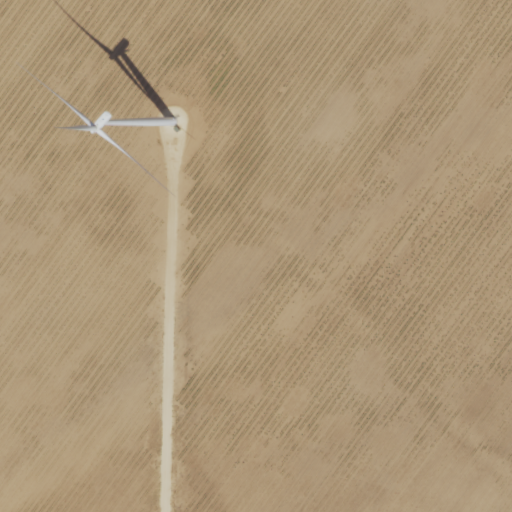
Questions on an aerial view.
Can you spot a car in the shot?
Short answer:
No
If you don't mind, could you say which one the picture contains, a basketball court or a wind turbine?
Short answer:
wind turbine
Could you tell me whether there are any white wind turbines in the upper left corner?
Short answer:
Yes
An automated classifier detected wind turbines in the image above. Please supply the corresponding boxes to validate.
[26,66,182,194]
